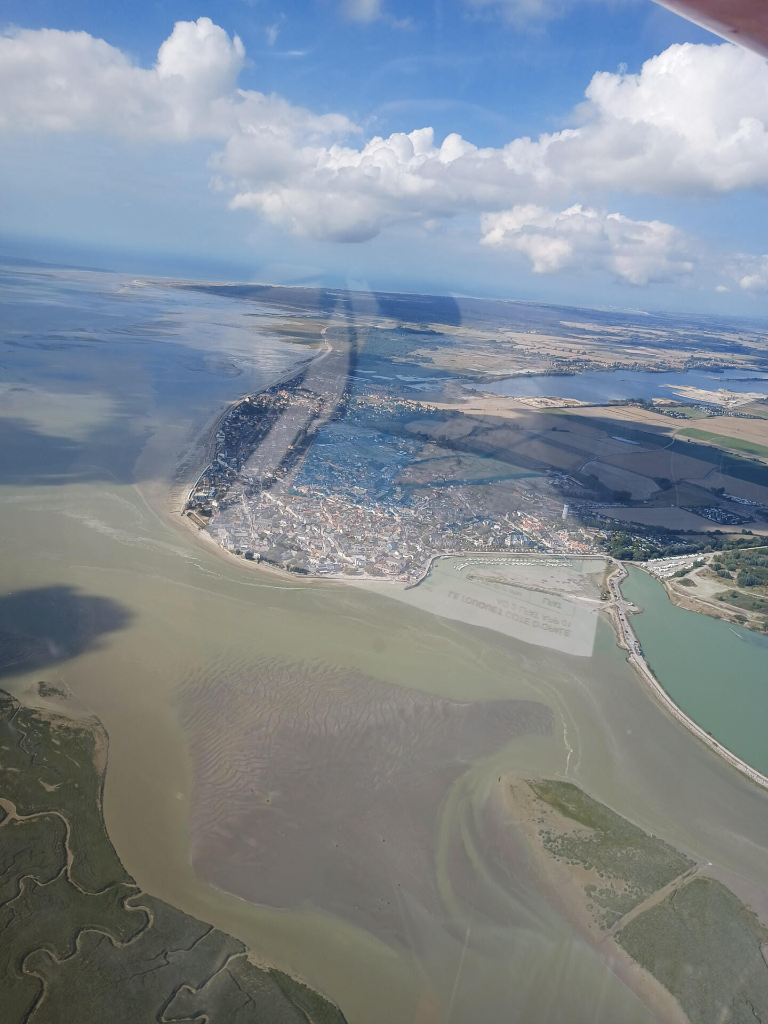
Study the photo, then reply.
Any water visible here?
Yes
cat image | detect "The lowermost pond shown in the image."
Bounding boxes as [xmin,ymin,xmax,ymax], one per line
[620,566,768,777]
